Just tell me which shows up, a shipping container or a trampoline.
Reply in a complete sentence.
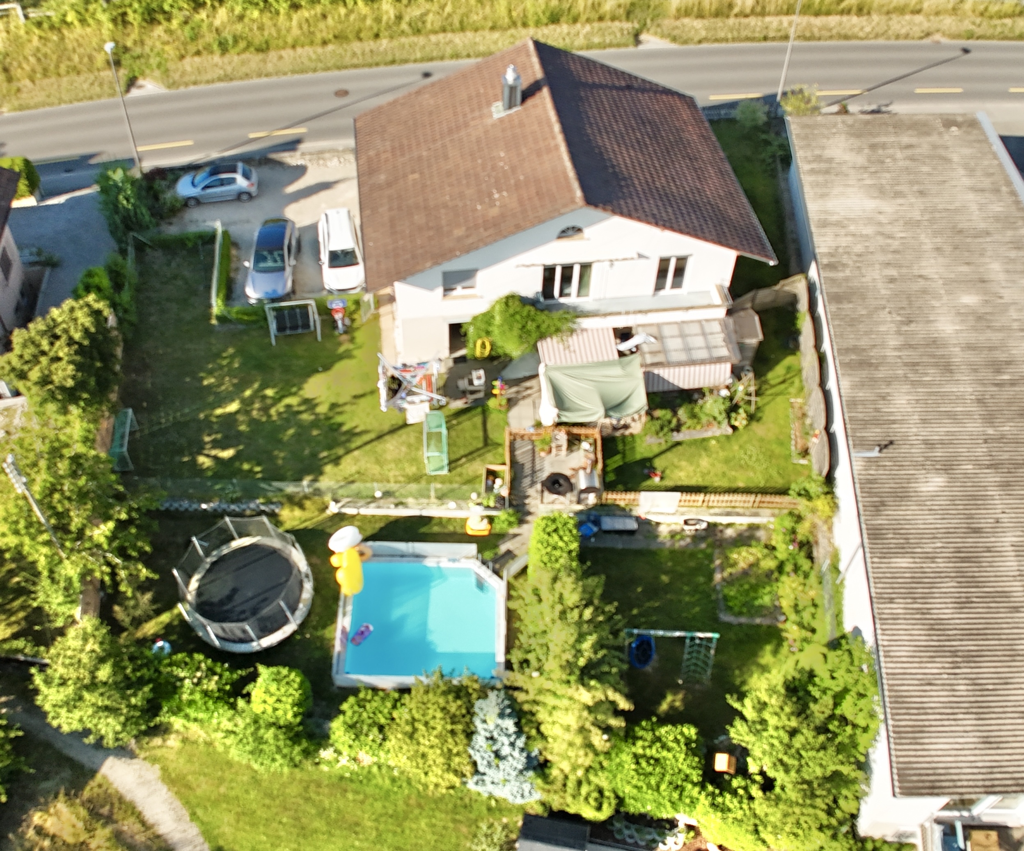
The one in the frame is a trampoline.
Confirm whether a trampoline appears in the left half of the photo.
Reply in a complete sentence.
Yes, looking in the left half of the photo, one can make out a trampoline.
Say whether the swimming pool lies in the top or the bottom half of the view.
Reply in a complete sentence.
The bottom half of the photo is where the swimming pool is.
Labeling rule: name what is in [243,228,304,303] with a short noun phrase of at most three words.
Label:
car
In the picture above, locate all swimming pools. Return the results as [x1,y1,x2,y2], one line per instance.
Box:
[333,549,510,698]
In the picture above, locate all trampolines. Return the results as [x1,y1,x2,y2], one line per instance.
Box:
[164,509,318,658]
